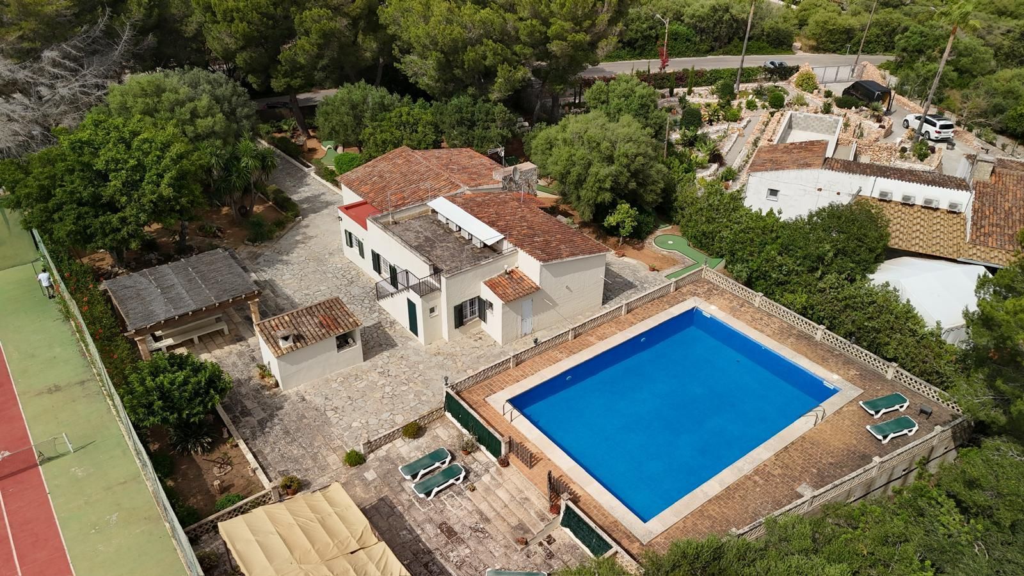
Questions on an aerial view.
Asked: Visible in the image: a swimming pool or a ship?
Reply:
swimming pool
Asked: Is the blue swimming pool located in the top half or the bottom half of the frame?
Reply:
bottom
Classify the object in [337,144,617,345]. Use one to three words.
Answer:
house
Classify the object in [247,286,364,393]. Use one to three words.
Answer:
shed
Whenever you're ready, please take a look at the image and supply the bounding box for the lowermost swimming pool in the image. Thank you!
[484,296,864,539]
